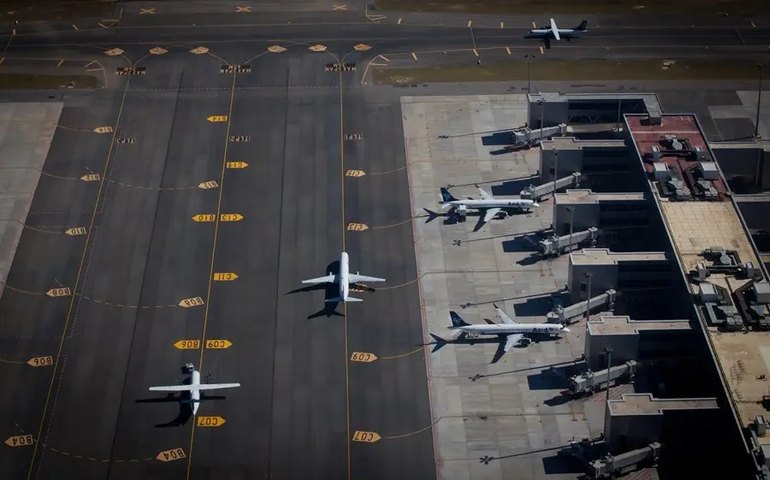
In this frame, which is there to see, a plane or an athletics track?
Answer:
plane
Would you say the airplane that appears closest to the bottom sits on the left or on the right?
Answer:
left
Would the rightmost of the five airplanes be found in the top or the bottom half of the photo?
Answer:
top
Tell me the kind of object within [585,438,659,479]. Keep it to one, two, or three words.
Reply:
jet bridge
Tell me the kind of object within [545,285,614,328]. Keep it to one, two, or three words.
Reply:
jet bridge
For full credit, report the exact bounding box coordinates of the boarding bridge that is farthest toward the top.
[508,120,565,147]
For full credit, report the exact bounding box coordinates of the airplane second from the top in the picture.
[438,183,539,219]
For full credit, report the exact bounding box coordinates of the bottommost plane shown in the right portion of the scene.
[448,304,569,349]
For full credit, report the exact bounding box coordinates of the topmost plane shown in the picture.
[528,17,590,38]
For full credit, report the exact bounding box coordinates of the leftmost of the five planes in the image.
[150,372,241,413]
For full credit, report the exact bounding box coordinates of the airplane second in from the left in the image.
[301,253,388,302]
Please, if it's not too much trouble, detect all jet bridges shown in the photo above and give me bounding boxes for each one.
[585,438,659,479]
[519,169,580,204]
[508,120,565,147]
[545,285,614,328]
[534,223,596,258]
[566,356,635,395]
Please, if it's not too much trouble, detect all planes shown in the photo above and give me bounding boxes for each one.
[150,372,241,413]
[301,253,388,302]
[528,17,590,38]
[438,183,539,219]
[448,304,569,349]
